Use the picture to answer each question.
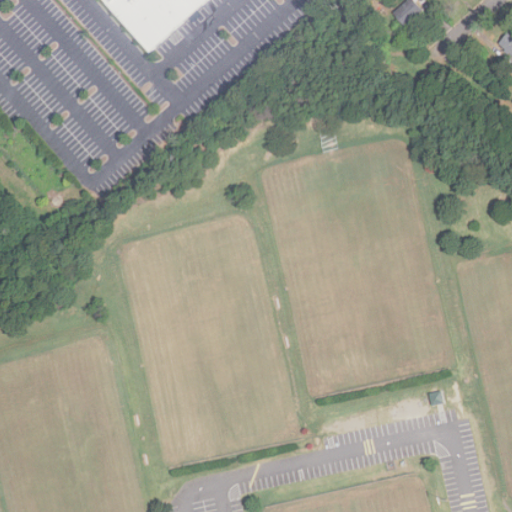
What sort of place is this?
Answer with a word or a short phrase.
sports ground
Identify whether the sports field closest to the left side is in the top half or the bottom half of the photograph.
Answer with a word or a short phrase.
bottom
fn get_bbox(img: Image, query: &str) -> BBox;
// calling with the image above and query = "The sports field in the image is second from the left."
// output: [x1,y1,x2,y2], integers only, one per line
[121,216,298,466]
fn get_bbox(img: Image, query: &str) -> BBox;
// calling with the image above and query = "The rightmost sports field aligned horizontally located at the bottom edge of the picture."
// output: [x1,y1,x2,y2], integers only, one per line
[257,476,430,512]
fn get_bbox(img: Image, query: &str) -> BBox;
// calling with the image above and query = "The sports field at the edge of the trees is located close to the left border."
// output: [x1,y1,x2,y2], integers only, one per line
[0,337,144,512]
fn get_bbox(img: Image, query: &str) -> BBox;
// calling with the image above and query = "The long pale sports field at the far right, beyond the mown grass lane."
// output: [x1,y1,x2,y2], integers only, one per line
[457,255,512,512]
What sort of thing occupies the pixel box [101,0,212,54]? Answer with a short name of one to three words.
building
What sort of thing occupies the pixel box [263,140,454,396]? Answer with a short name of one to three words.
sports field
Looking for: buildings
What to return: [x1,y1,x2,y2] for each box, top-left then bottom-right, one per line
[498,30,512,58]
[393,0,422,25]
[101,0,212,54]
[428,390,443,406]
